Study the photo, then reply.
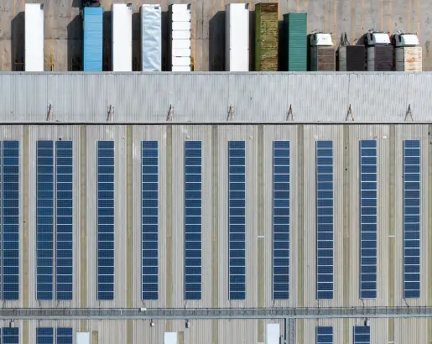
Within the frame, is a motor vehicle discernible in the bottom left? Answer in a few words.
No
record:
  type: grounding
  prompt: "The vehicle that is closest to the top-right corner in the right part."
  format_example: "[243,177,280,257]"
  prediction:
[391,28,421,47]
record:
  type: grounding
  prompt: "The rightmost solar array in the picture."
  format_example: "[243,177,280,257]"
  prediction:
[404,140,423,299]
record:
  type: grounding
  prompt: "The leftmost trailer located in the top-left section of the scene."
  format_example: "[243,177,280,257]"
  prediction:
[23,3,44,71]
